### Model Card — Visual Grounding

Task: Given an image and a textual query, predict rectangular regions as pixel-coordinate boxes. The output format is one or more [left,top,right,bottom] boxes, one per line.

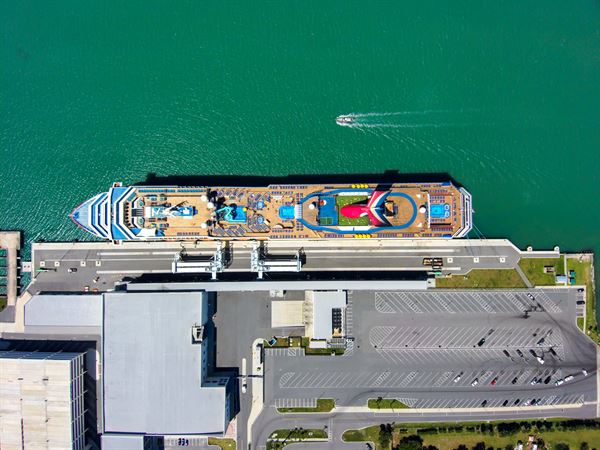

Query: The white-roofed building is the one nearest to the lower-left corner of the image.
[0,350,88,450]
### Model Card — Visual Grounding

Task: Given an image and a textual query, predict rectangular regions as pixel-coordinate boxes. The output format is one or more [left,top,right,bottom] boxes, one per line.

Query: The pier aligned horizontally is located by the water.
[32,237,561,294]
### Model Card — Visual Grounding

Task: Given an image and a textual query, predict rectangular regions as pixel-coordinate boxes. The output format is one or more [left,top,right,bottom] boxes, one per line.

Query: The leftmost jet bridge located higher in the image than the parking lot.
[172,241,227,281]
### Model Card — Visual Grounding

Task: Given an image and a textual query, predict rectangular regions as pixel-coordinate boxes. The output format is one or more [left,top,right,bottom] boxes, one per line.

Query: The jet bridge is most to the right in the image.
[251,241,306,281]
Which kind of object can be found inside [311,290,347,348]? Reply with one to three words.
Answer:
building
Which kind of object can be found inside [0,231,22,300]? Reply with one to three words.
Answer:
pier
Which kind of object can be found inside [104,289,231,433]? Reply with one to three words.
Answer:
building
